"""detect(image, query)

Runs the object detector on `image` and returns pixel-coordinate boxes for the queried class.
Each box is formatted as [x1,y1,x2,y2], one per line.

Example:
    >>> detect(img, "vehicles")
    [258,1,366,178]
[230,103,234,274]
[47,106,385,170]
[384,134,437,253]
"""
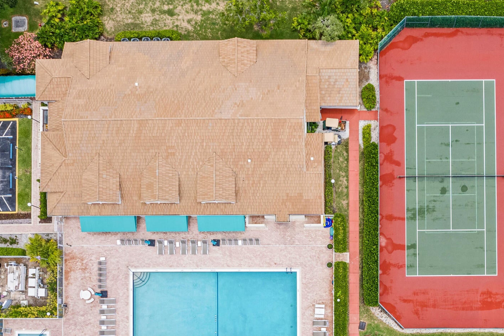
[323,116,347,130]
[322,130,343,144]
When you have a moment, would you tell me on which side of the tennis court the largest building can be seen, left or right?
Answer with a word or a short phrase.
to its left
